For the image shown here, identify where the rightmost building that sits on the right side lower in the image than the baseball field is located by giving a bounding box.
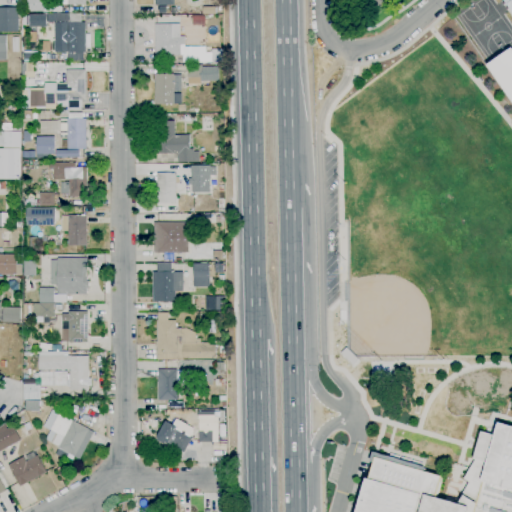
[459,420,512,512]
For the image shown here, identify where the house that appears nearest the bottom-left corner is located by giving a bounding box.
[8,450,46,487]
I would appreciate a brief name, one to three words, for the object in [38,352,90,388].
house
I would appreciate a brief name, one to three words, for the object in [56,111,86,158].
house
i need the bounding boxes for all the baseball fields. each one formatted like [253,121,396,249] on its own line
[332,40,512,358]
